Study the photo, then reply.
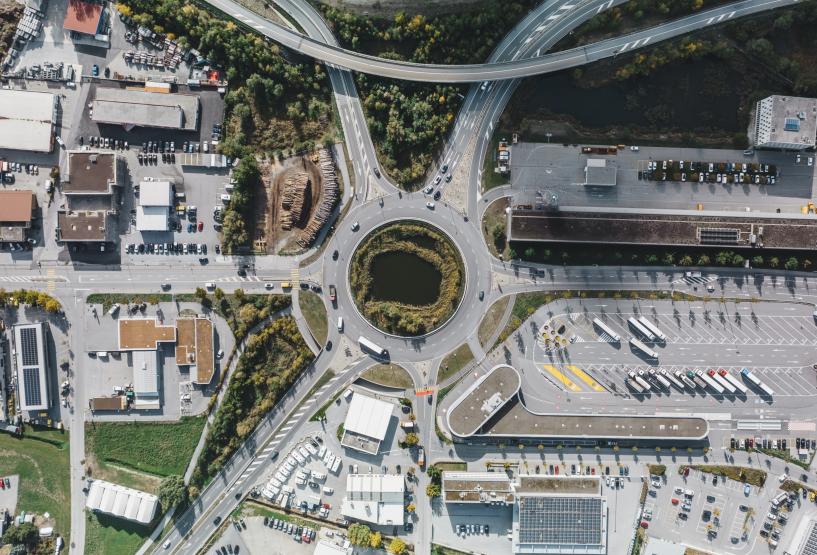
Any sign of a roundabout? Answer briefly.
Yes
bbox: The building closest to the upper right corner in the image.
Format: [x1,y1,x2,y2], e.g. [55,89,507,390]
[756,96,817,148]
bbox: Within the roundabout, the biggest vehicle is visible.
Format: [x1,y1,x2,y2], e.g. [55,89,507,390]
[358,335,391,359]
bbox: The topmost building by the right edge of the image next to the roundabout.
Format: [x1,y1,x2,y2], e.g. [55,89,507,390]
[509,210,817,250]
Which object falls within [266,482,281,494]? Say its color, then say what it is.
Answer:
white vehicle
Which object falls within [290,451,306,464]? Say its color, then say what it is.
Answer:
white vehicle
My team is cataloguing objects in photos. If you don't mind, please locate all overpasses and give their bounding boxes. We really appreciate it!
[204,0,804,84]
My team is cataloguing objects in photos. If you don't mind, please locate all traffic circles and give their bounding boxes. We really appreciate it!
[299,91,536,388]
